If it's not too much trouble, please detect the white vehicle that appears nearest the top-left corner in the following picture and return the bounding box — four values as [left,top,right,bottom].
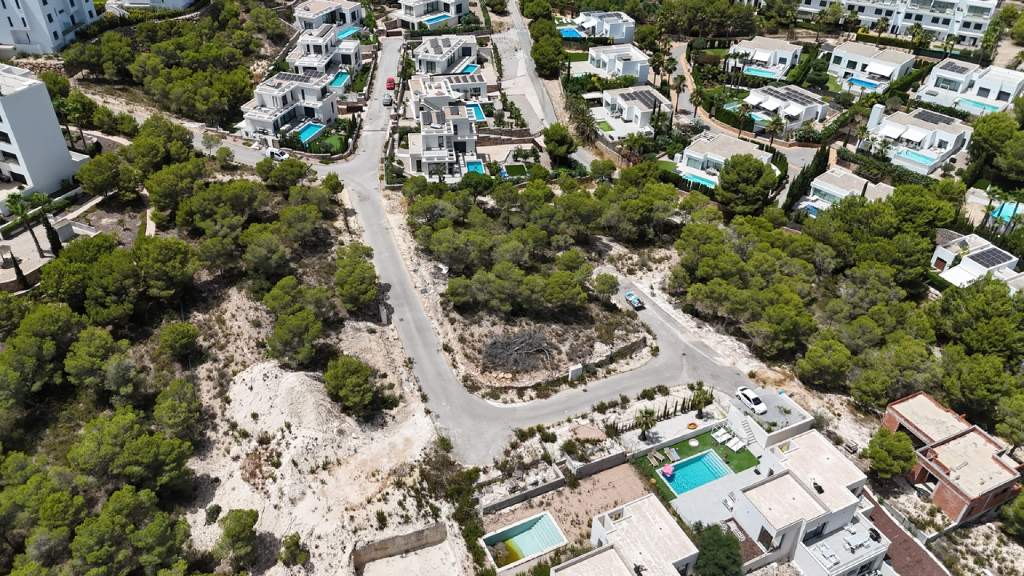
[257,144,288,162]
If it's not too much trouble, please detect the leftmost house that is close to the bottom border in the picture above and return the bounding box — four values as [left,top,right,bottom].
[553,494,698,576]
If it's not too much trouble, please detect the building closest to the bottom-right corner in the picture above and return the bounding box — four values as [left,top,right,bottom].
[882,391,1024,531]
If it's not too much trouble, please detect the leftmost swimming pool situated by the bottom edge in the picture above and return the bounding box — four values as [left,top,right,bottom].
[482,511,568,575]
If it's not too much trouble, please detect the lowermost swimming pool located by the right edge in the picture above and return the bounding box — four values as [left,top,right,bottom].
[987,202,1024,222]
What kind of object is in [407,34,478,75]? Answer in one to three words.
house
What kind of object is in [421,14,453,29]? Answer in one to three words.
swimming pool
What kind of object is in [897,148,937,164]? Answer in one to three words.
swimming pool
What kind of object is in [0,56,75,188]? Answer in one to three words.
building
